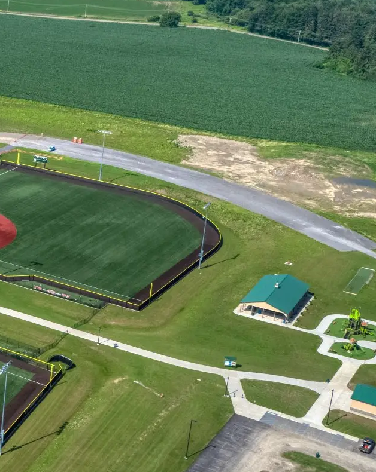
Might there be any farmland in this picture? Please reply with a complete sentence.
Yes, farmland shows up in the scene.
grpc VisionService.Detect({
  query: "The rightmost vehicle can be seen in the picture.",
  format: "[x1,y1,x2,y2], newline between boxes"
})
[359,429,376,450]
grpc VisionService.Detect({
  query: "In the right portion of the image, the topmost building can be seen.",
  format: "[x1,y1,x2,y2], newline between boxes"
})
[238,263,311,320]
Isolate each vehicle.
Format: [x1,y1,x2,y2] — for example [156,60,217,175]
[44,141,59,149]
[359,429,376,450]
